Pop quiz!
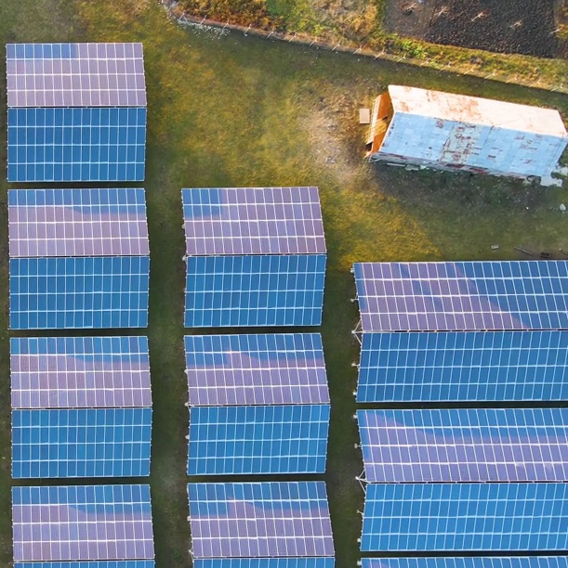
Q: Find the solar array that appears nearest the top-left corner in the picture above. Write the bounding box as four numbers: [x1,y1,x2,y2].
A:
[6,42,148,181]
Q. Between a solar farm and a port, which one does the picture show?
solar farm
